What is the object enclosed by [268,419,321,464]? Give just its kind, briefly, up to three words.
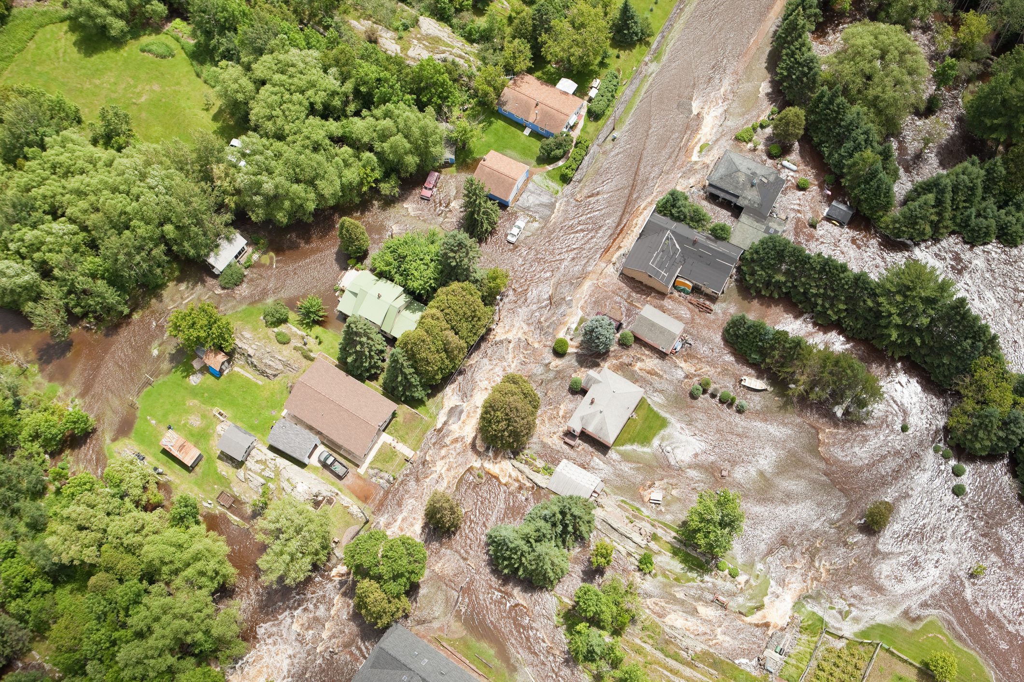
building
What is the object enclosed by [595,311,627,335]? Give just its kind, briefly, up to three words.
car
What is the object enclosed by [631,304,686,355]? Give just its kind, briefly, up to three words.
shed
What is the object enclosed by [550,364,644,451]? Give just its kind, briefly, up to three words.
house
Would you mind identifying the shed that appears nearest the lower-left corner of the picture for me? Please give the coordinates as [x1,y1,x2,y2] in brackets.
[159,430,205,469]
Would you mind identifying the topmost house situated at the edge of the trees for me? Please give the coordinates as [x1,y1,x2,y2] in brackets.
[500,72,583,135]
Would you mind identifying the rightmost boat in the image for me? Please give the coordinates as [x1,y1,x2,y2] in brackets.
[738,374,769,389]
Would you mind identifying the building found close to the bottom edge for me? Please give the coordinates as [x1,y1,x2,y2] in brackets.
[354,626,480,682]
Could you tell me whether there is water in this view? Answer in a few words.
Yes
